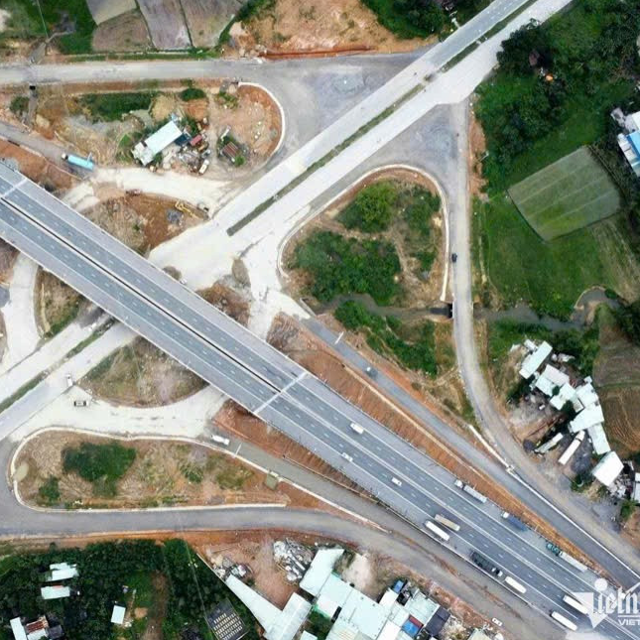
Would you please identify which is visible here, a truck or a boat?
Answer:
truck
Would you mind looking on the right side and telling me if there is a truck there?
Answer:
Yes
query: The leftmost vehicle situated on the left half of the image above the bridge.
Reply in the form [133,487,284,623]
[60,151,94,170]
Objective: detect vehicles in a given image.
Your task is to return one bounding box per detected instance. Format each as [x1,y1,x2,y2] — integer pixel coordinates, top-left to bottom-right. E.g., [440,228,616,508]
[390,477,402,487]
[545,540,591,574]
[342,452,353,462]
[562,593,592,617]
[60,151,94,170]
[503,573,530,597]
[558,431,588,465]
[470,548,505,579]
[197,158,211,174]
[211,433,229,446]
[433,512,463,534]
[423,519,453,545]
[534,432,566,453]
[367,368,378,379]
[500,510,530,533]
[66,374,73,387]
[450,252,458,263]
[548,609,581,635]
[454,478,490,505]
[350,422,364,435]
